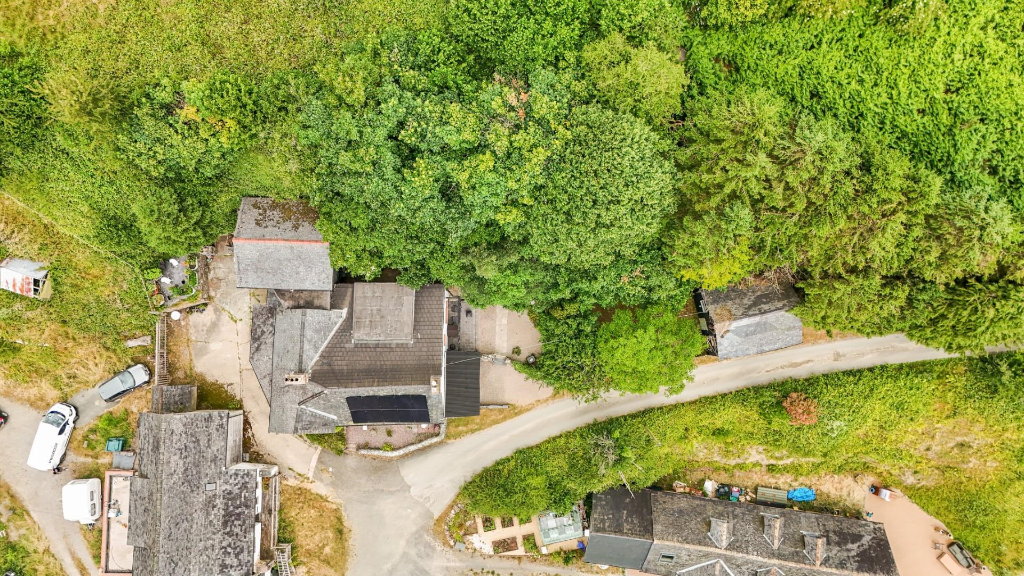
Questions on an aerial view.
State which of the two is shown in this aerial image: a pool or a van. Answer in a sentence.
I can see a van in this picture.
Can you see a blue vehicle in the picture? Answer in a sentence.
No, there isn't any blue vehicle down there.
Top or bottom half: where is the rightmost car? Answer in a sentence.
The rightmost car sits in the bottom half of the picture.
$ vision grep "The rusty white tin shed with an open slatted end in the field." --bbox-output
[0,258,52,300]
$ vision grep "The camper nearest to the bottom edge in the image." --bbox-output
[62,474,104,531]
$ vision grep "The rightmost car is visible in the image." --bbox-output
[95,360,154,406]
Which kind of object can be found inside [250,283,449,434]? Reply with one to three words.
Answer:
house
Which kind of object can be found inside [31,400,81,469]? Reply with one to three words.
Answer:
van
